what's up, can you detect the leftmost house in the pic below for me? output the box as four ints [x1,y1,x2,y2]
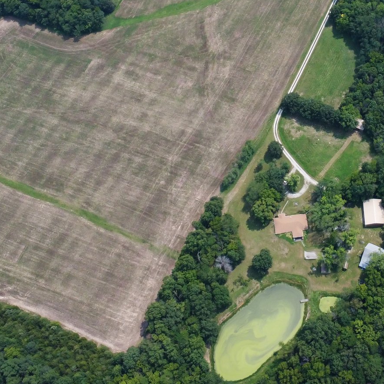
[273,213,308,244]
